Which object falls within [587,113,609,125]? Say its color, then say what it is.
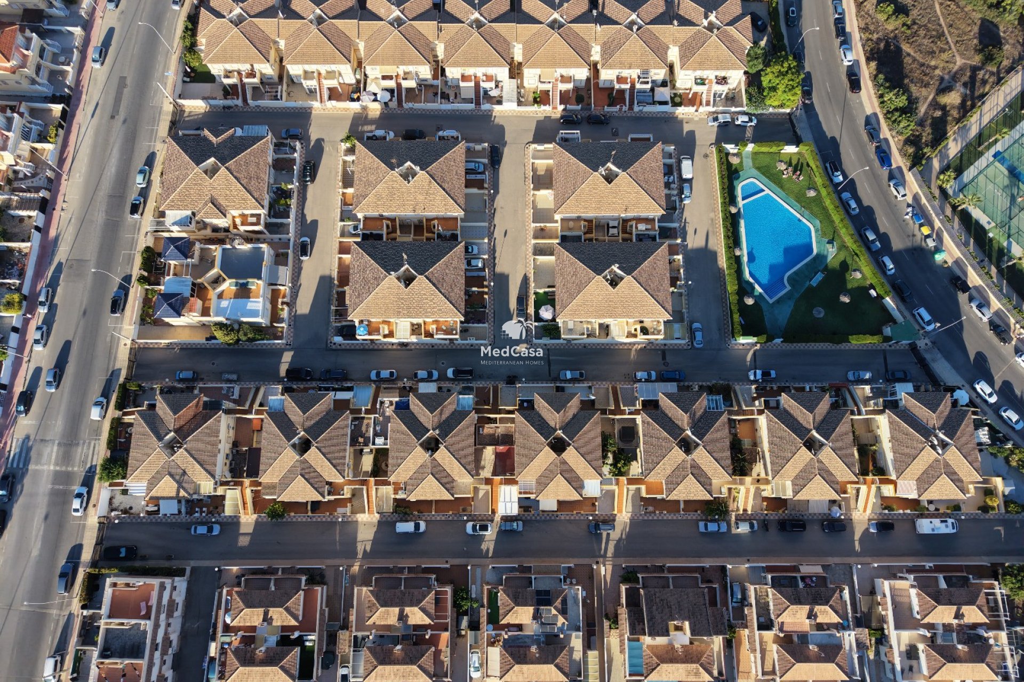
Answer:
black vehicle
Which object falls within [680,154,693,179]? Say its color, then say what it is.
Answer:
white vehicle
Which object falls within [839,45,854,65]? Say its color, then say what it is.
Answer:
white car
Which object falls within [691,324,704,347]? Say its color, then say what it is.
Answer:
blue vehicle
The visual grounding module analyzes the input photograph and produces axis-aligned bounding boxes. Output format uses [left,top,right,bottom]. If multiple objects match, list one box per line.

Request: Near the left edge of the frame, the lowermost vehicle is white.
[40,651,64,682]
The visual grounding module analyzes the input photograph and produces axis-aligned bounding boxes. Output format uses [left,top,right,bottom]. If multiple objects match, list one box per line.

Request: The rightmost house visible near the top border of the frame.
[669,0,755,107]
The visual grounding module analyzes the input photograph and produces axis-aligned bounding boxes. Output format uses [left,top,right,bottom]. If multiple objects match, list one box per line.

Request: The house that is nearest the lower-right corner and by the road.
[881,571,1005,682]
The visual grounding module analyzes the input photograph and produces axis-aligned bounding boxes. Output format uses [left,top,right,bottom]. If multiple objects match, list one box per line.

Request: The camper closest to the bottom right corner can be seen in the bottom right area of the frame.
[910,518,957,534]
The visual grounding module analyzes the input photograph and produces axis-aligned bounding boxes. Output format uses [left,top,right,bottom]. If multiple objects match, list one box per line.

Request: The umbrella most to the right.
[952,390,967,405]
